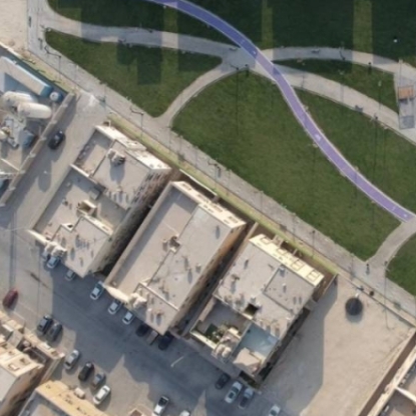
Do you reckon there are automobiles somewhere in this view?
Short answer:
Yes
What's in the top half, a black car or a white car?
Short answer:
black car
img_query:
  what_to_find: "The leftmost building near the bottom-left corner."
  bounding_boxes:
[0,323,52,416]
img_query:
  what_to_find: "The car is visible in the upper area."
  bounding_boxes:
[46,128,65,149]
